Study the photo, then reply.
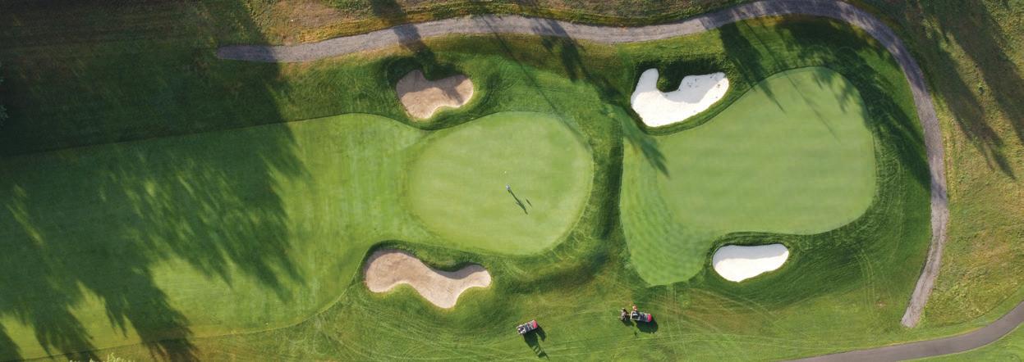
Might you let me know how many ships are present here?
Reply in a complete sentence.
The photo contains no ships.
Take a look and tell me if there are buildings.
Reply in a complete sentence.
No, no building is visible in the view.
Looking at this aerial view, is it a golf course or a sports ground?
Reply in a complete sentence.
The area seen from above is a golf course.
